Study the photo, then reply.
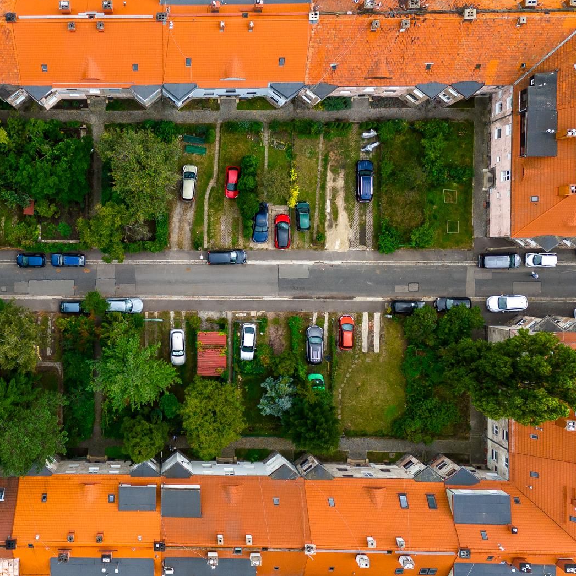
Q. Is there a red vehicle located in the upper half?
Yes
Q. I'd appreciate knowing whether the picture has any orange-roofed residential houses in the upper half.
Yes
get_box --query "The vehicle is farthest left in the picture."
[17,252,46,267]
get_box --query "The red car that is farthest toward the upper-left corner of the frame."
[224,165,241,199]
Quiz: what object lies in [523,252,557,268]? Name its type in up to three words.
car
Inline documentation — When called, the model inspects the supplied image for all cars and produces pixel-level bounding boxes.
[252,201,268,244]
[476,253,520,269]
[104,297,142,314]
[52,253,86,267]
[17,252,46,267]
[355,159,375,202]
[59,299,91,314]
[390,299,424,314]
[224,165,241,199]
[295,201,311,231]
[169,328,186,365]
[181,164,197,201]
[274,214,290,249]
[523,252,557,268]
[306,324,324,364]
[238,322,255,360]
[339,314,355,350]
[434,296,472,313]
[484,294,527,312]
[308,373,326,398]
